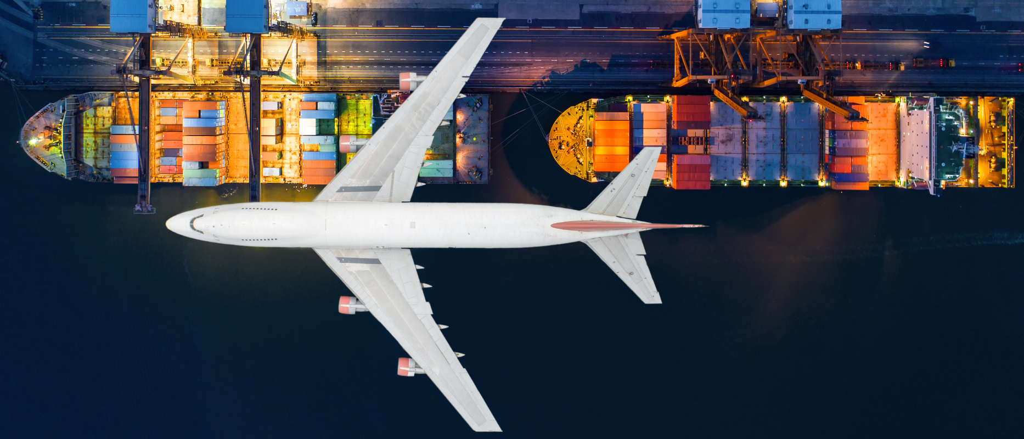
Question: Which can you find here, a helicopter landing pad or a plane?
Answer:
plane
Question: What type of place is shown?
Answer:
port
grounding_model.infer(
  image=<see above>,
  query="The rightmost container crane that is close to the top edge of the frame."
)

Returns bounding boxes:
[743,0,879,115]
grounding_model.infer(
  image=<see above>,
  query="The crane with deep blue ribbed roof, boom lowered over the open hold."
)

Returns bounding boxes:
[108,0,233,212]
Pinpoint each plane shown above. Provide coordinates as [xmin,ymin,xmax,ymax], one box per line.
[166,18,702,431]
